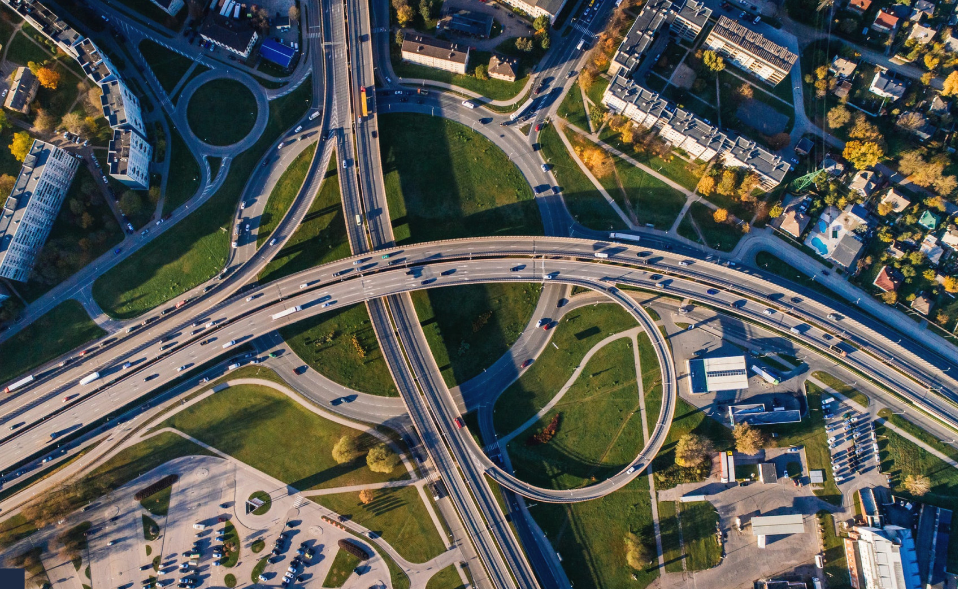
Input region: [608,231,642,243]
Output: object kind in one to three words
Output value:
vehicle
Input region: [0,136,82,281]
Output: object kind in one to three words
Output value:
building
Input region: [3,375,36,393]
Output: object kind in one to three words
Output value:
vehicle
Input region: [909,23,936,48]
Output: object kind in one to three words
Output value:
house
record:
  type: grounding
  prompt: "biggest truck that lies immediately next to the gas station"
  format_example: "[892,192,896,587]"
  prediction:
[748,362,780,387]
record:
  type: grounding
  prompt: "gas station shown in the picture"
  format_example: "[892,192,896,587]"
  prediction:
[703,356,748,392]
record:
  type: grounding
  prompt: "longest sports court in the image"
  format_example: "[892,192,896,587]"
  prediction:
[737,98,789,135]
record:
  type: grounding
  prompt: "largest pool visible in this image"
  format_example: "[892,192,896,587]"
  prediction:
[810,237,829,255]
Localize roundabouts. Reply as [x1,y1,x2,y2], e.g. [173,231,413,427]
[175,66,269,158]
